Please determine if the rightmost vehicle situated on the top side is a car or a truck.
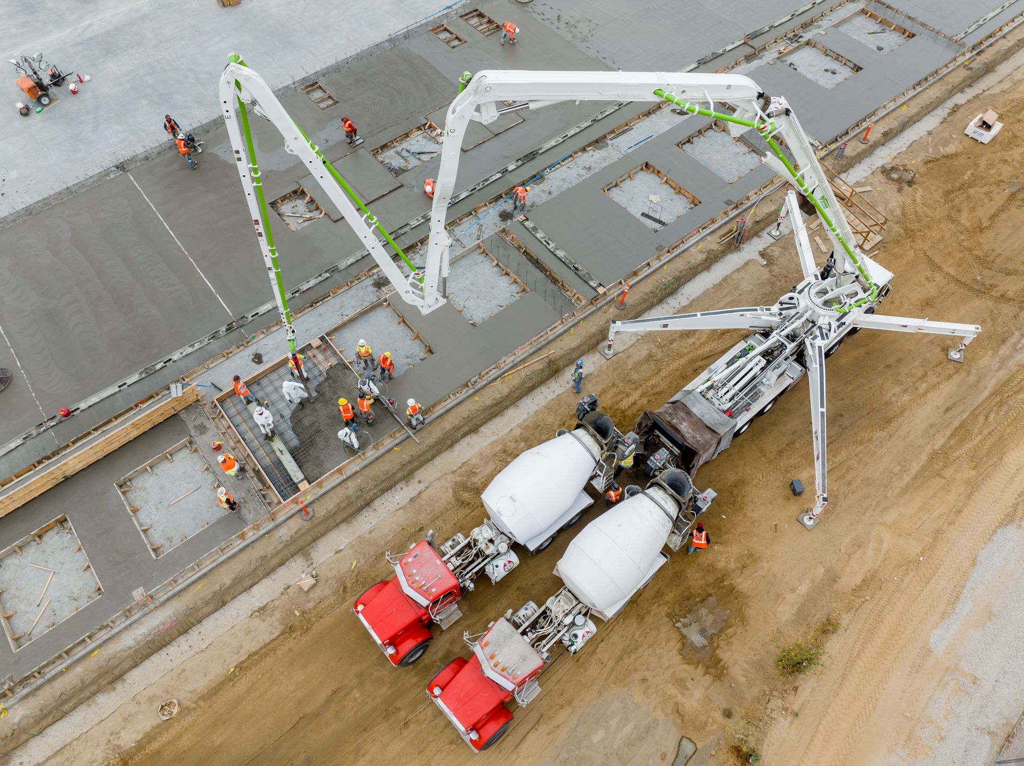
truck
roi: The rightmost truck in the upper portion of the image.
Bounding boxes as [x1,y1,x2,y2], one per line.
[218,50,988,525]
